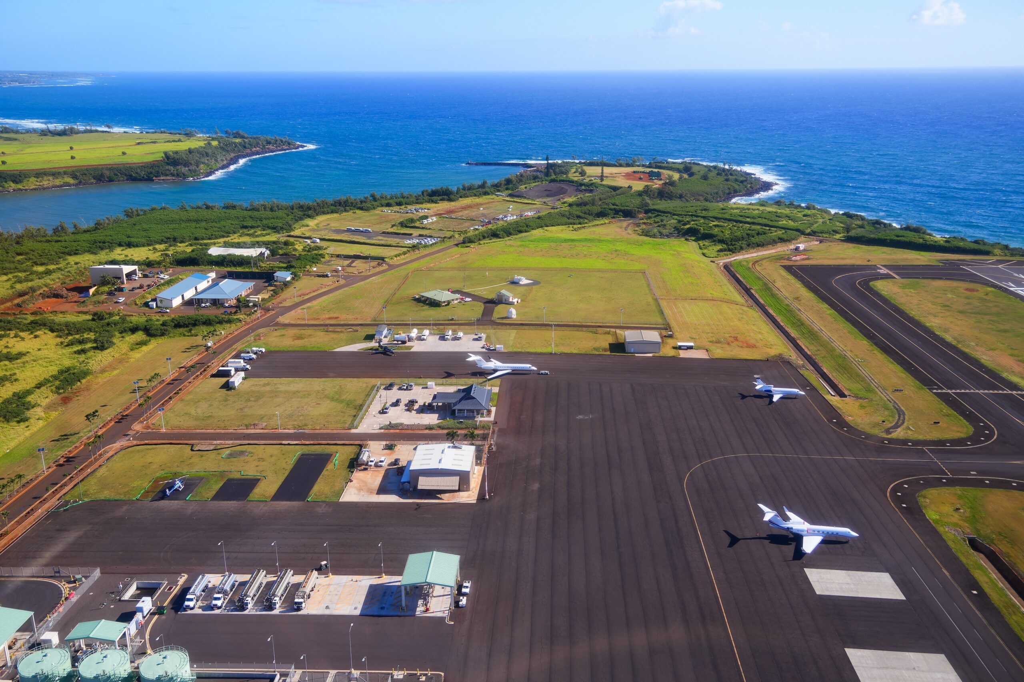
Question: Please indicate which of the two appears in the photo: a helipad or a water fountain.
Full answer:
Looking from above, you can make out a helipad.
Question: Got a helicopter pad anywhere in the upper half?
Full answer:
No, no helicopter pad appears in the upper half.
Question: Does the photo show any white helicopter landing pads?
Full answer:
No, I find no white helicopter landing pad anywhere in the image.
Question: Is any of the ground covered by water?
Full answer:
Yes, water shows up in the scene.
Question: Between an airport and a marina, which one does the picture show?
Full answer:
What you see here is an airport.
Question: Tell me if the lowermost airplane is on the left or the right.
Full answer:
You can find the lowermost airplane on the right side of the picture.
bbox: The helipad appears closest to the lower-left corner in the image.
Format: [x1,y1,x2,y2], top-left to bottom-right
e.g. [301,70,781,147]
[157,477,204,501]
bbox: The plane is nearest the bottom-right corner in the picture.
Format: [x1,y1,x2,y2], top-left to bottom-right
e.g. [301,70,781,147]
[764,505,859,550]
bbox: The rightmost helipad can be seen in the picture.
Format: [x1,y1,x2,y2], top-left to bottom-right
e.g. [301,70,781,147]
[270,454,333,502]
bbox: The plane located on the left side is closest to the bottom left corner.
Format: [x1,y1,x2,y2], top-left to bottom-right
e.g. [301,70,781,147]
[372,340,396,355]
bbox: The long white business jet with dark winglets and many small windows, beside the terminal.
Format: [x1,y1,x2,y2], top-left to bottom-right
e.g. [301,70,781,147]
[464,354,537,378]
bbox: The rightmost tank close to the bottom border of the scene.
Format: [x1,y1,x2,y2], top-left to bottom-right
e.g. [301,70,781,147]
[137,647,195,682]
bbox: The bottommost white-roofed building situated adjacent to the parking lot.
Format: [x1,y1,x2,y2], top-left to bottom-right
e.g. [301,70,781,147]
[403,440,477,491]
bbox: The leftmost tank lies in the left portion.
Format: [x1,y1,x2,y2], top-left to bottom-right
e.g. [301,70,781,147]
[14,644,76,682]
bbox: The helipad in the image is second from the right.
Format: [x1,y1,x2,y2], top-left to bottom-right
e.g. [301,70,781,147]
[210,479,260,501]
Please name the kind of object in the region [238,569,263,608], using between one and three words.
truck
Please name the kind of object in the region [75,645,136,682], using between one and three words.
storage tank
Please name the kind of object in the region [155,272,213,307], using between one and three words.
shed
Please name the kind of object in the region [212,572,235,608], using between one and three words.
truck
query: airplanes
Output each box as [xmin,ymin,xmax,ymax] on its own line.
[757,379,805,400]
[464,354,537,378]
[764,505,859,550]
[372,340,396,355]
